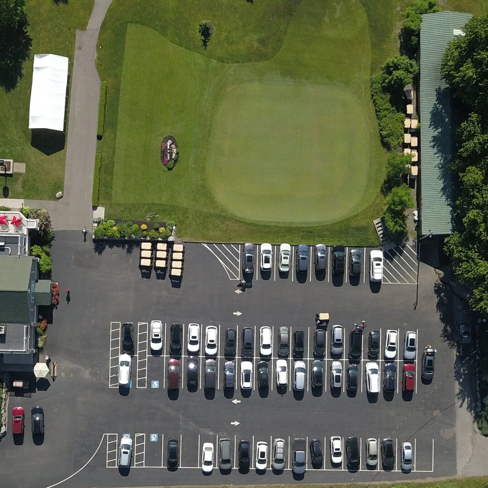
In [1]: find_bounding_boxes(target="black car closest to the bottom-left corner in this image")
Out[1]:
[30,405,45,434]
